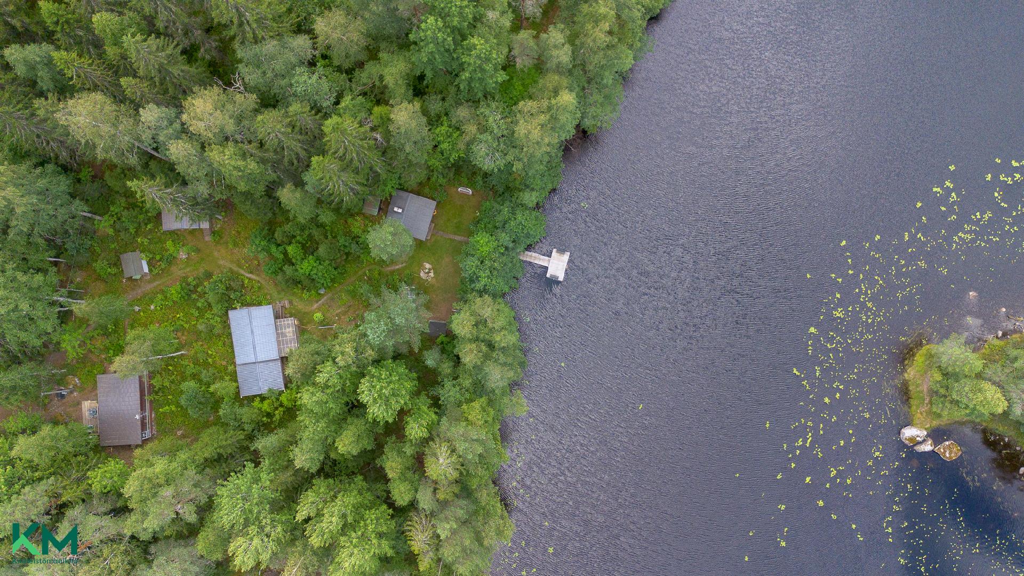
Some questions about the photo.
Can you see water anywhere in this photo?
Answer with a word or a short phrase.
Yes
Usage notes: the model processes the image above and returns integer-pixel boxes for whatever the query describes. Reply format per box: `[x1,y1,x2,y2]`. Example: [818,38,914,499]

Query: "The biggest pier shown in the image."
[524,248,570,282]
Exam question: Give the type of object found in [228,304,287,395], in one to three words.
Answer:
building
